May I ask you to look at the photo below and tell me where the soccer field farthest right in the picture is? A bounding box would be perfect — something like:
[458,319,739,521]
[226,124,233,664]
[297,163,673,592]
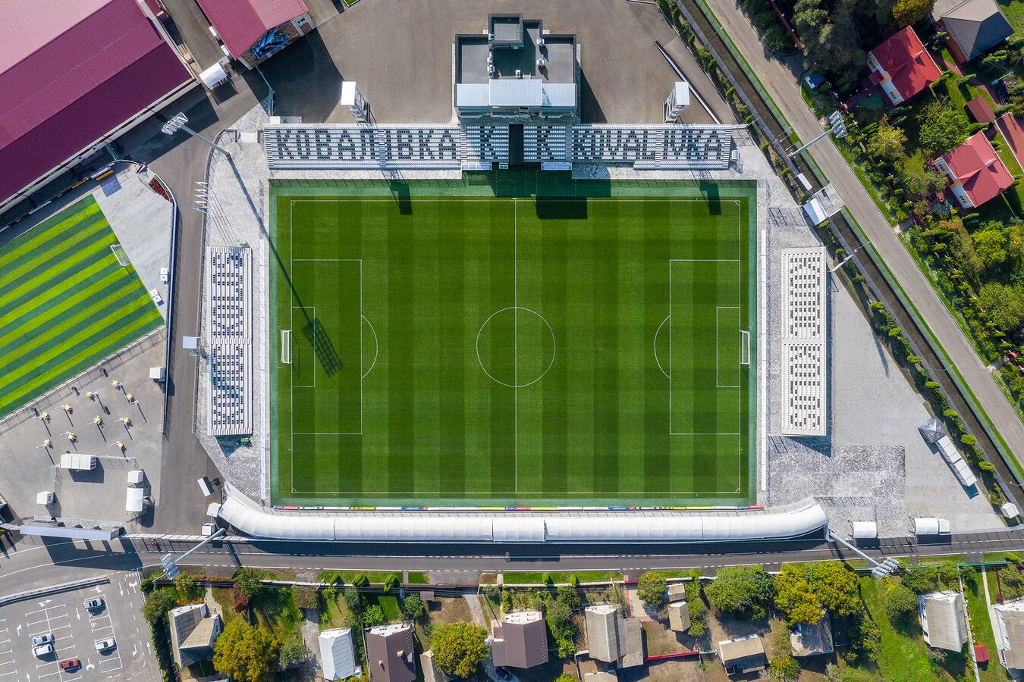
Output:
[269,169,757,507]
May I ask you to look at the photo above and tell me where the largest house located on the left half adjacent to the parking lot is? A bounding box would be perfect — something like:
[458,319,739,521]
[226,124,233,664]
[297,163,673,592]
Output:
[168,604,207,668]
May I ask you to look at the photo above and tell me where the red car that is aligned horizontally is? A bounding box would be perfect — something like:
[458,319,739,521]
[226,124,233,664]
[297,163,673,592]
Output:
[58,660,79,672]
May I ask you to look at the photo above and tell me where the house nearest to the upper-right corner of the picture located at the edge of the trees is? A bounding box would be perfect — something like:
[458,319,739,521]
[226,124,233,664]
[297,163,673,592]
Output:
[938,0,1015,66]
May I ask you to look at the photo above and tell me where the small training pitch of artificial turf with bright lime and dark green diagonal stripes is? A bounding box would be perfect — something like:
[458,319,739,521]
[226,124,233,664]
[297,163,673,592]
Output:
[0,195,164,416]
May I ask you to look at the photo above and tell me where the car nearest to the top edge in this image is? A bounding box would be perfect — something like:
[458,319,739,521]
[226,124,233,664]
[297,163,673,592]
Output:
[82,599,103,611]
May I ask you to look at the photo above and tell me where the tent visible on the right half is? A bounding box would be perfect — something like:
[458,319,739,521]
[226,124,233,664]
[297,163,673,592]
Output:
[915,417,946,443]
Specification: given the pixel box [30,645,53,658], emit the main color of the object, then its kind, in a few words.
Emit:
white vehicle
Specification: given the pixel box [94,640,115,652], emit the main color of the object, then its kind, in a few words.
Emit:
white vehicle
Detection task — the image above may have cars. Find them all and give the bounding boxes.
[30,645,53,658]
[94,640,115,652]
[31,635,52,647]
[493,669,513,682]
[82,599,103,611]
[58,660,79,672]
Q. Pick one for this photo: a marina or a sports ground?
sports ground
